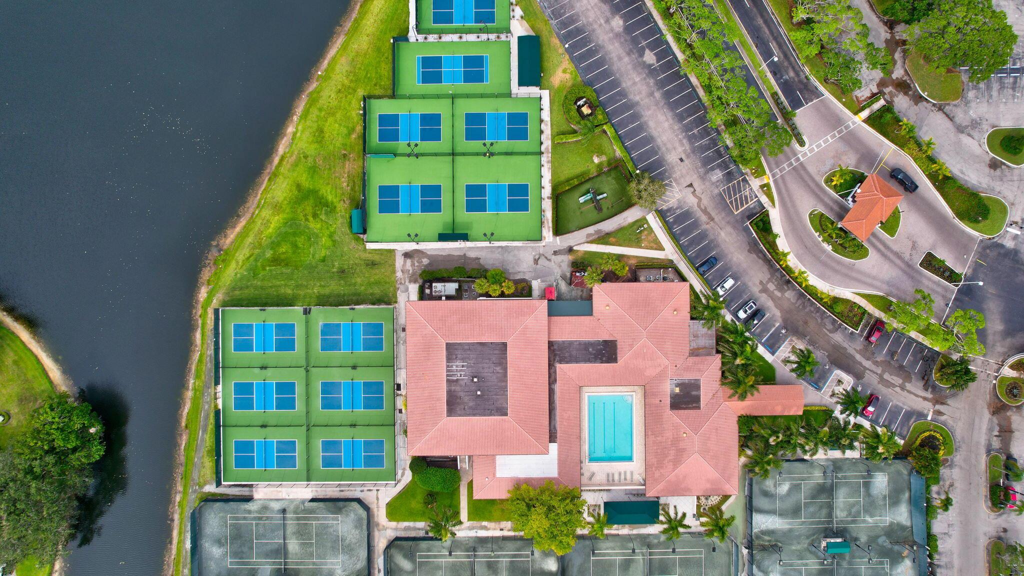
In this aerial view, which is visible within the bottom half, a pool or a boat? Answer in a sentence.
What appears within the bottom half is a pool.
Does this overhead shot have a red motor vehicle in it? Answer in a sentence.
Yes, I can see a red motor vehicle in this picture.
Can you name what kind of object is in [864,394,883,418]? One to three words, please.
car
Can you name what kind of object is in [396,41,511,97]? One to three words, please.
sports court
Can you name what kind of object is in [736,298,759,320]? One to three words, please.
car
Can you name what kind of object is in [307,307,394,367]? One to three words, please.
sports court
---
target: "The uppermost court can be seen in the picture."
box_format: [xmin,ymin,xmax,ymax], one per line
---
[417,0,510,34]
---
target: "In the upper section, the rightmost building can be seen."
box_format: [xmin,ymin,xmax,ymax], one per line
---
[835,173,904,243]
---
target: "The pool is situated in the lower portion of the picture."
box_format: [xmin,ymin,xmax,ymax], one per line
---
[587,393,635,463]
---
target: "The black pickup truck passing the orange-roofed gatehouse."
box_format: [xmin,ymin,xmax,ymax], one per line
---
[891,167,923,193]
